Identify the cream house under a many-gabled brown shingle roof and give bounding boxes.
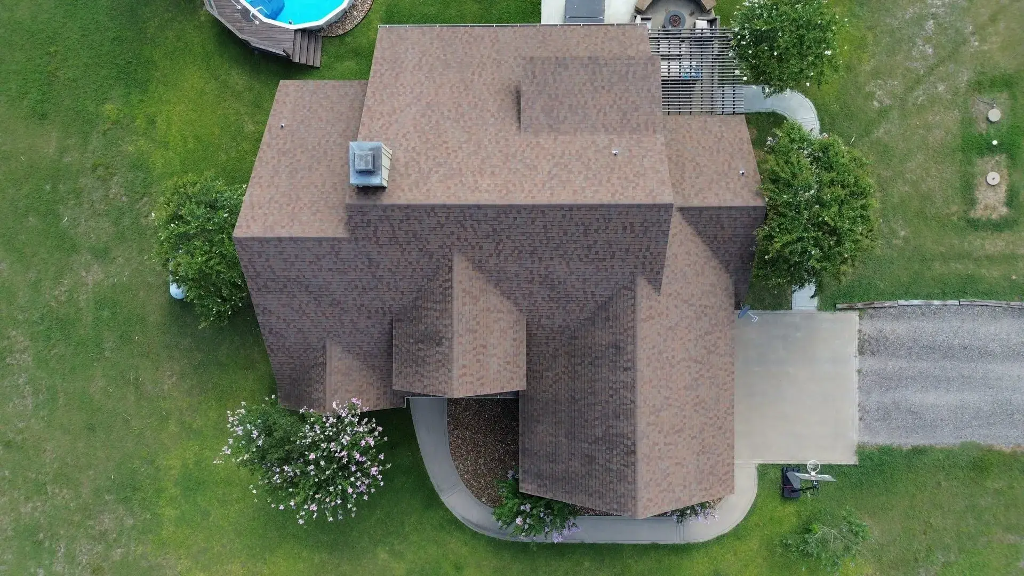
[233,21,767,521]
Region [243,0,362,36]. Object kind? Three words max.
swimming pool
